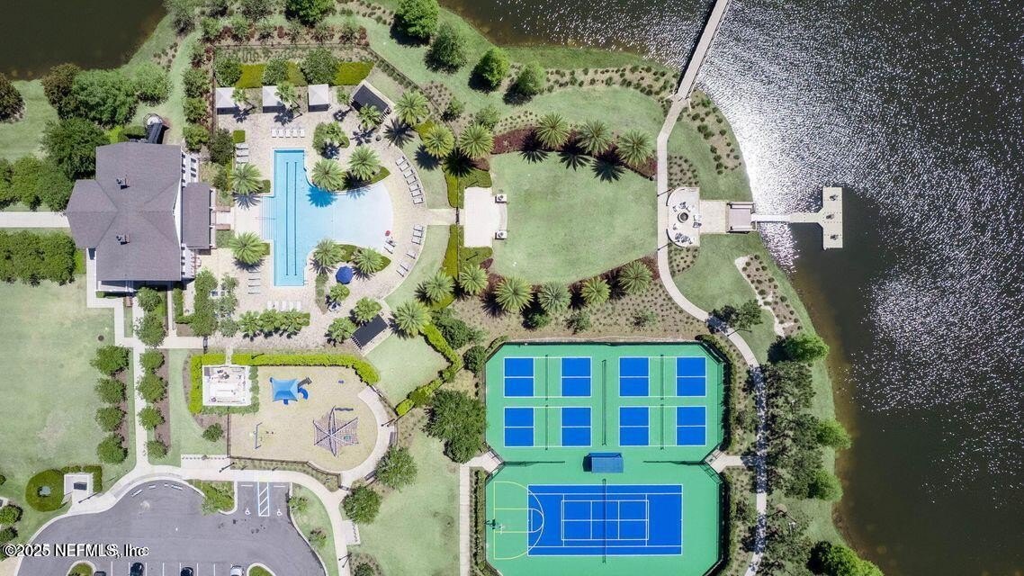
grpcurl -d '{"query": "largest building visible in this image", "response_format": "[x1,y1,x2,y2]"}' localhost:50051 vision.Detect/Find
[66,142,223,293]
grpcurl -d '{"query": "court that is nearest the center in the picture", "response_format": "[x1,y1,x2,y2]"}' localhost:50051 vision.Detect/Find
[504,353,592,401]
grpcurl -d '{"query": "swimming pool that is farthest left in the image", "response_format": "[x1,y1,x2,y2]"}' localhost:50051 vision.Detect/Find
[256,147,395,288]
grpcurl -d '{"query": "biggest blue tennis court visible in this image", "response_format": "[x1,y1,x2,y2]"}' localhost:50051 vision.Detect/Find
[528,478,682,565]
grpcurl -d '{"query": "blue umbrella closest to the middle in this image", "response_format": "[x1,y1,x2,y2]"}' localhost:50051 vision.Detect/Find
[336,266,353,283]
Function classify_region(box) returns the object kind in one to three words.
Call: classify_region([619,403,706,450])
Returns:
sports court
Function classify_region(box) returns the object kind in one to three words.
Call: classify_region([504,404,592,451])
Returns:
sports court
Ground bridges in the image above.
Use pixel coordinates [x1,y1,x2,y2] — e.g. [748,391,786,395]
[674,0,735,97]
